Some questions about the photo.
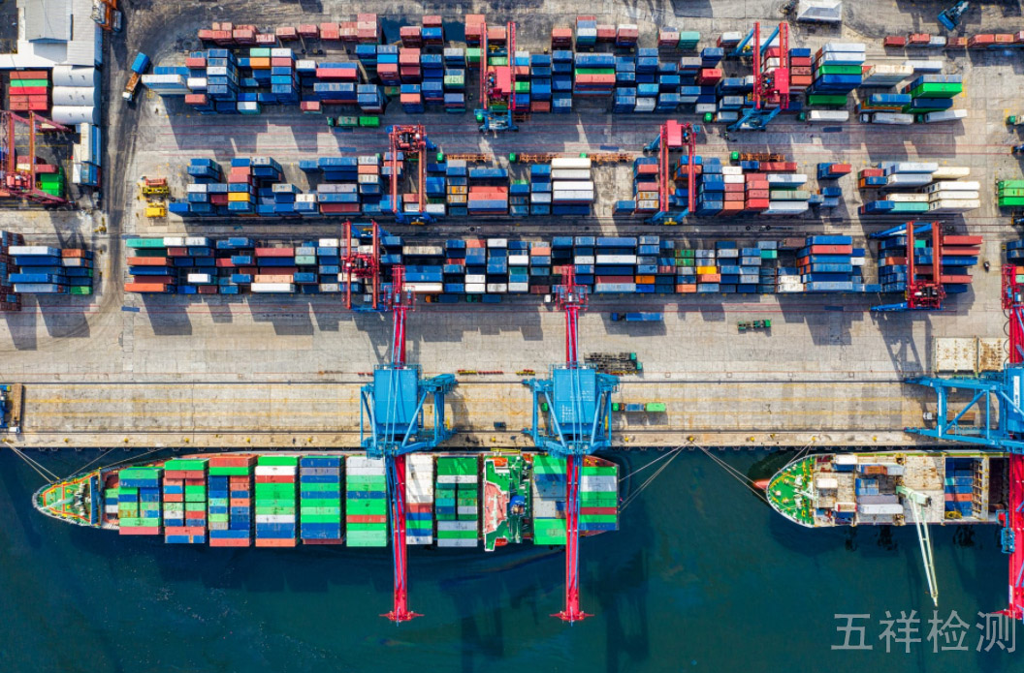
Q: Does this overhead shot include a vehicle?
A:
Yes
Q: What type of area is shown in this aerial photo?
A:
port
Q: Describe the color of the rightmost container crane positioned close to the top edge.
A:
red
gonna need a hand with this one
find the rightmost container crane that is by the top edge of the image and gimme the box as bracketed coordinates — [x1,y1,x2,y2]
[730,21,793,128]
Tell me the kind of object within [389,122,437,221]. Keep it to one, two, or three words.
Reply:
container crane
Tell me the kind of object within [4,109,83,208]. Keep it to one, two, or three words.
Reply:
container crane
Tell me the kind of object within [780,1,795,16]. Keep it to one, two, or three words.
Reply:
work vehicle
